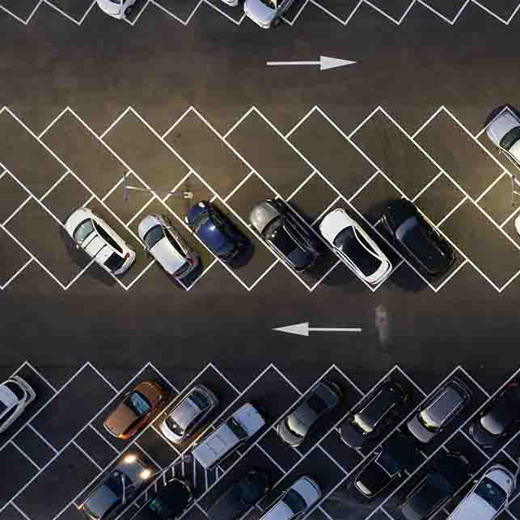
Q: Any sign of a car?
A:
Yes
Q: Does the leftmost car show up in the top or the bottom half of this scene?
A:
bottom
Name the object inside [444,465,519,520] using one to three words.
van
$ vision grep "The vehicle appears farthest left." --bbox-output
[0,374,42,437]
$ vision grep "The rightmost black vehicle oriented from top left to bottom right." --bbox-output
[378,196,457,283]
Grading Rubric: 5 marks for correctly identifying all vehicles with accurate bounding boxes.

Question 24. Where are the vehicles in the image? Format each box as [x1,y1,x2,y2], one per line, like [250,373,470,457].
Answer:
[187,401,267,472]
[100,378,170,445]
[321,208,395,287]
[121,476,195,520]
[444,465,519,520]
[350,431,422,505]
[469,377,520,450]
[246,0,296,30]
[158,382,225,447]
[187,202,252,268]
[338,376,413,451]
[250,200,328,278]
[396,451,471,520]
[488,113,520,174]
[99,0,142,21]
[74,456,150,520]
[0,374,42,437]
[203,465,274,520]
[378,196,457,283]
[408,374,476,445]
[256,474,325,520]
[277,377,347,450]
[137,213,202,282]
[67,208,140,277]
